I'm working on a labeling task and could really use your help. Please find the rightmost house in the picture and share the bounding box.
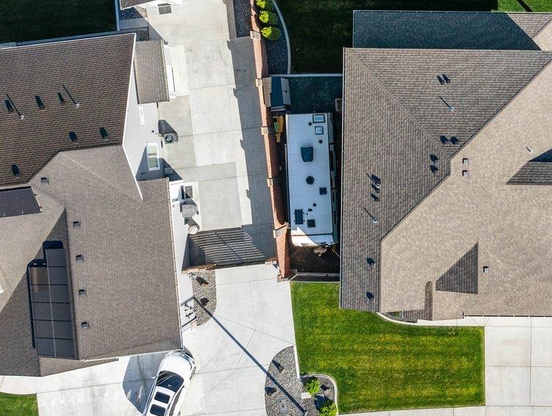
[339,9,552,321]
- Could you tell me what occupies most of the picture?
buildings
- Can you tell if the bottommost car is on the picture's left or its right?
left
